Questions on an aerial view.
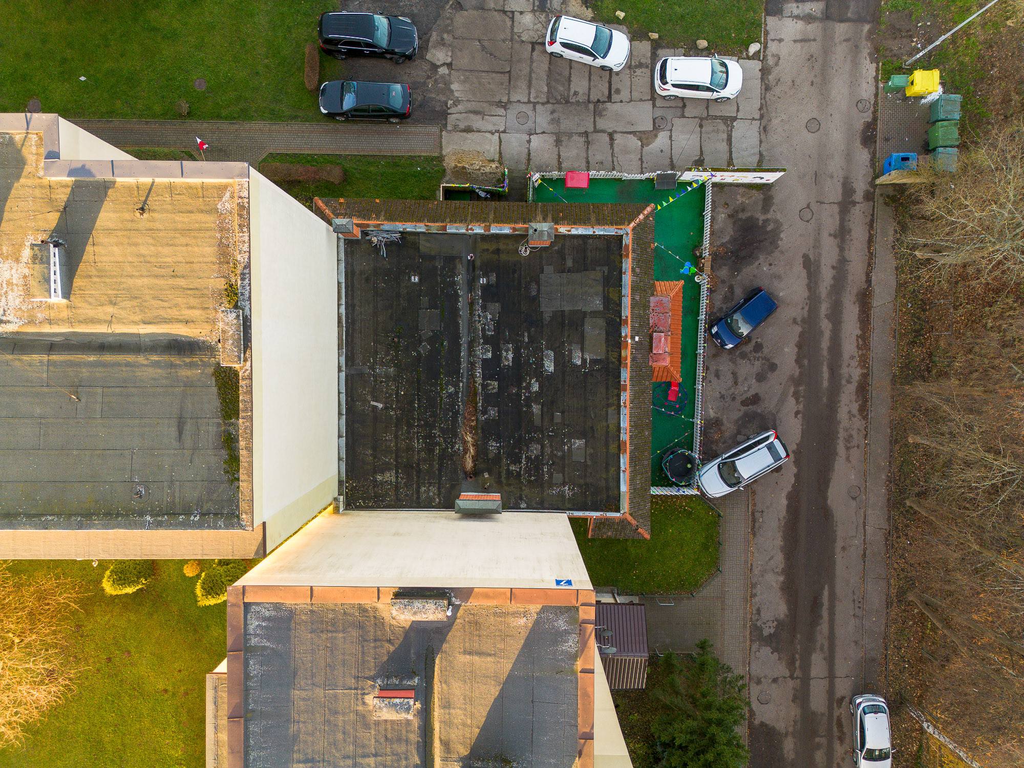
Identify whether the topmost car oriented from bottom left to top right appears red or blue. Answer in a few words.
blue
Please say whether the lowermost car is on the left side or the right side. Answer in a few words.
right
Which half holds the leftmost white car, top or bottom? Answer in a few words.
top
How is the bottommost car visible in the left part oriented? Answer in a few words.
from side to side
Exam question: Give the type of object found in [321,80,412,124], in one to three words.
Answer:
car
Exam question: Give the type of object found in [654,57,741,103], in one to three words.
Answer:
car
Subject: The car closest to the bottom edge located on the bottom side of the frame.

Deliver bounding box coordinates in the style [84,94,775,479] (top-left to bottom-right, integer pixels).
[845,692,890,768]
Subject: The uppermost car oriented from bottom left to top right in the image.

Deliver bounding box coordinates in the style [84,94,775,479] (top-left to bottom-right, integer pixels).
[708,287,784,349]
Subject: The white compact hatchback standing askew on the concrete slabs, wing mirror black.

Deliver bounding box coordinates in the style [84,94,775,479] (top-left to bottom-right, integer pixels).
[545,17,629,74]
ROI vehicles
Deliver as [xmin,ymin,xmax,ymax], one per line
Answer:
[845,692,890,768]
[708,287,784,349]
[545,17,629,74]
[319,13,416,66]
[698,430,790,498]
[321,80,412,124]
[654,57,741,103]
